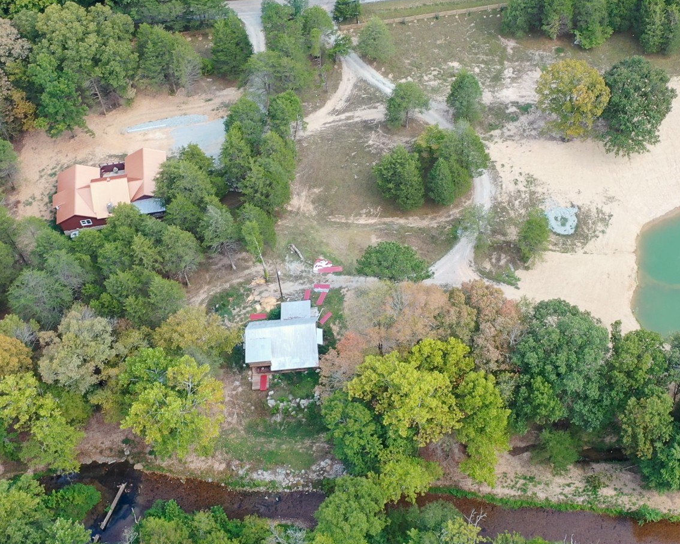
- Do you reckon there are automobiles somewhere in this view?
No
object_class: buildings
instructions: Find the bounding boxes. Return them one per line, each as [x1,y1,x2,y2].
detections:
[242,300,327,393]
[52,146,169,234]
